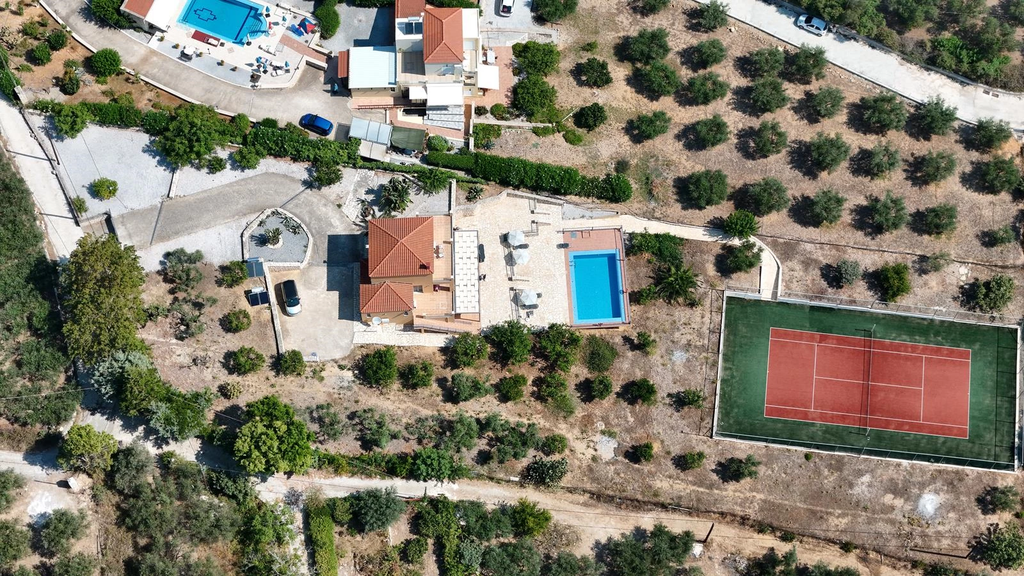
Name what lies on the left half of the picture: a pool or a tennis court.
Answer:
pool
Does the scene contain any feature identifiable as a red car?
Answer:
No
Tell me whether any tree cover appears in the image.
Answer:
Yes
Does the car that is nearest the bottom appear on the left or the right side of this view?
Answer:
left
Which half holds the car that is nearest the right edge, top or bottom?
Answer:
top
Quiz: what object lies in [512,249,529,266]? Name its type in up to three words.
umbrella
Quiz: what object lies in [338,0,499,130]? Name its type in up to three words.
house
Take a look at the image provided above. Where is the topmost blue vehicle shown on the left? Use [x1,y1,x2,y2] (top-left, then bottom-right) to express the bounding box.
[300,114,334,136]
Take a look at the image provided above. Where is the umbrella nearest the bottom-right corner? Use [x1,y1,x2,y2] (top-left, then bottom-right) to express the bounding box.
[519,288,537,306]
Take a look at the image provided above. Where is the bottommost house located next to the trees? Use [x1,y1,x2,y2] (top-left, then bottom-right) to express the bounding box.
[359,215,481,337]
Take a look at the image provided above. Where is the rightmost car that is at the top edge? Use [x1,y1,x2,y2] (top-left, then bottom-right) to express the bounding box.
[796,15,829,36]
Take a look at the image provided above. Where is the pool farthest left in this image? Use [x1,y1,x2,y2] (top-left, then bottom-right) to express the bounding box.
[150,0,329,87]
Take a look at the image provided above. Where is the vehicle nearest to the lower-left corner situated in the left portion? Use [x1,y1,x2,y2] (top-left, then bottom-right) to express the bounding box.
[281,280,303,316]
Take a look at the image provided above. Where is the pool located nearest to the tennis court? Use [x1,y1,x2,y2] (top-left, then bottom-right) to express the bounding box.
[563,228,631,333]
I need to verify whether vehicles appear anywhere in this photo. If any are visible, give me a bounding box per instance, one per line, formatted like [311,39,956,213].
[500,0,515,17]
[281,280,303,316]
[796,15,829,36]
[300,114,334,136]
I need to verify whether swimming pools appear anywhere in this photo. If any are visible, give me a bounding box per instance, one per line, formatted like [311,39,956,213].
[150,0,329,87]
[563,228,631,333]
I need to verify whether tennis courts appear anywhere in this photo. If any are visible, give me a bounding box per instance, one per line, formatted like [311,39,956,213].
[712,291,1020,472]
